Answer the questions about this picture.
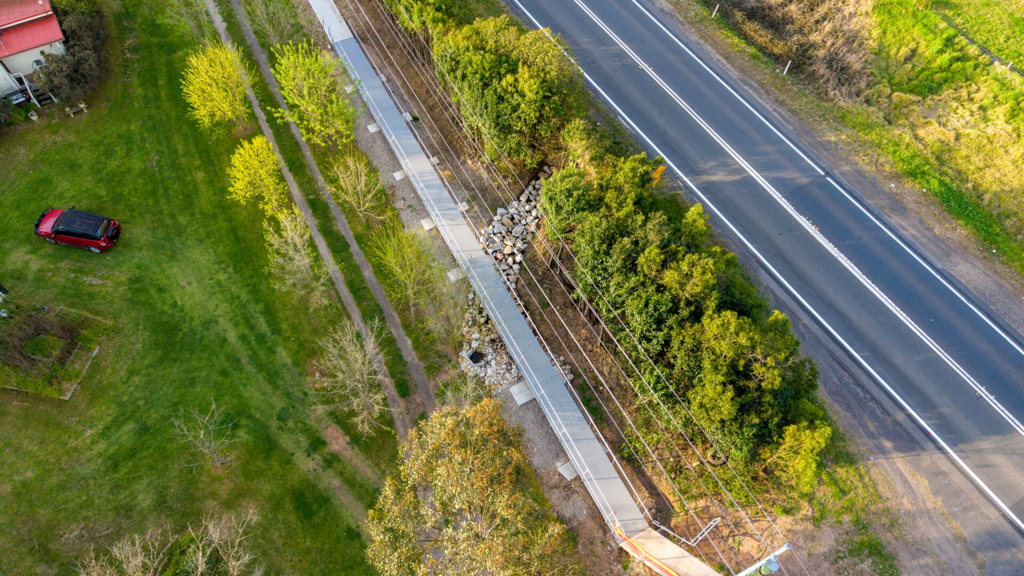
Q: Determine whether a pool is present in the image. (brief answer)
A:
No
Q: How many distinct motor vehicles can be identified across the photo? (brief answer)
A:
one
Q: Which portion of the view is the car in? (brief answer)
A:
left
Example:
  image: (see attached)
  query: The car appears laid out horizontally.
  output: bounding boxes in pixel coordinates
[27,206,123,255]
